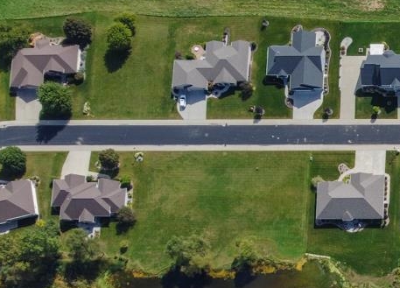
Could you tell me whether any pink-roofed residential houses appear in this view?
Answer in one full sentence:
No, the frame has no pink-roofed residential house in it.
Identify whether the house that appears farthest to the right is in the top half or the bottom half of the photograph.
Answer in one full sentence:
Seen from above, the house that appears farthest to the right lies in the top half of the view.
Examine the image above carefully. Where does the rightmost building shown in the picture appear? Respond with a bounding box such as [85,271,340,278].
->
[357,50,400,90]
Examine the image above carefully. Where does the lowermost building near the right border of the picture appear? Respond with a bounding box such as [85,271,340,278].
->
[316,172,385,221]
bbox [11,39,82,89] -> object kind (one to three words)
house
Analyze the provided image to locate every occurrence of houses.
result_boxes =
[11,39,82,89]
[51,173,131,222]
[173,41,254,90]
[0,168,42,219]
[267,26,325,90]
[316,172,385,221]
[357,50,400,90]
